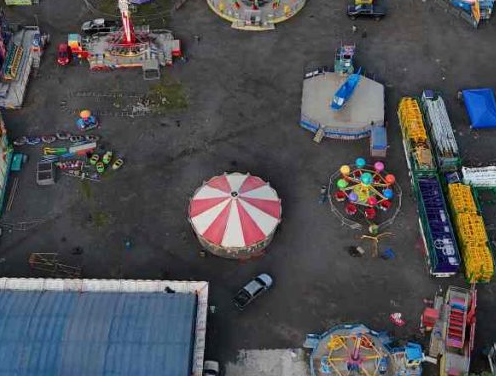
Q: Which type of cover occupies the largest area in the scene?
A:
paved ground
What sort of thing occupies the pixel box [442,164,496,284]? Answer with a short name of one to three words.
trailer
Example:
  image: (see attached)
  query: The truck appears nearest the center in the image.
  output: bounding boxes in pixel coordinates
[231,271,274,310]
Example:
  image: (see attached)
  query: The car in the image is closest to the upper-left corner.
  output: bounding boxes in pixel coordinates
[54,40,69,62]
